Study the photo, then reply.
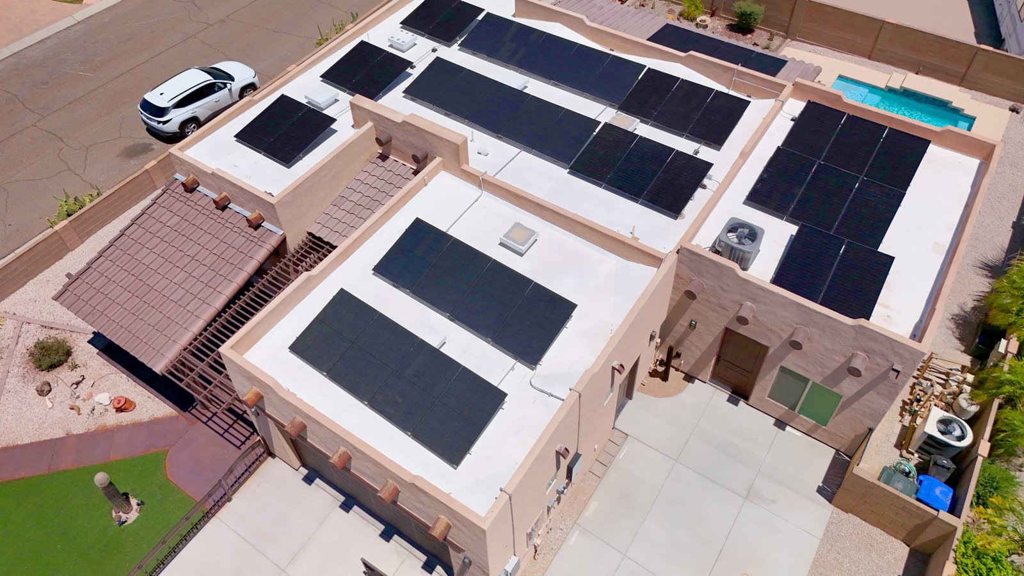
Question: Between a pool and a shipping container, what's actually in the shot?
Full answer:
The image shows a pool.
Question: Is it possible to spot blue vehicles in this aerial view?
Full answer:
No, I can't see a single blue vehicle in this photo.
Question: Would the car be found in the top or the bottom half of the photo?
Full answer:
It is in the top half that the car appears.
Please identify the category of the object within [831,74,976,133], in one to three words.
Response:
swimming pool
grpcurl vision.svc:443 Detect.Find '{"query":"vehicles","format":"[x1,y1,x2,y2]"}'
[136,60,261,141]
